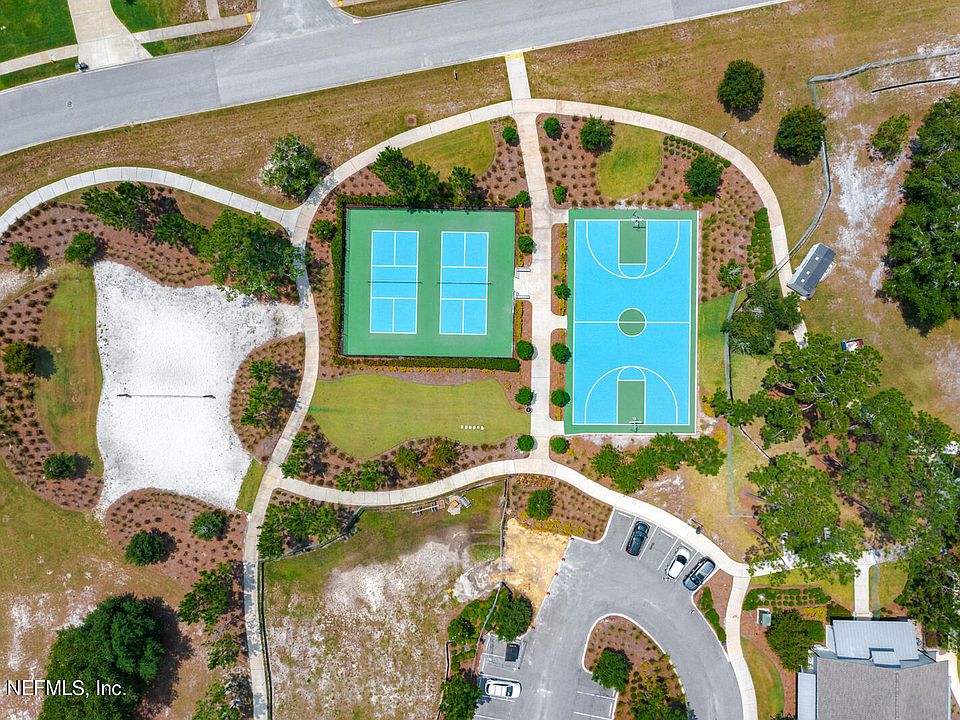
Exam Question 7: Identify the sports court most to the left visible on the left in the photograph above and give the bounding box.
[95,261,305,524]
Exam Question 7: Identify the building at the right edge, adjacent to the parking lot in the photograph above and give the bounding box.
[798,611,949,720]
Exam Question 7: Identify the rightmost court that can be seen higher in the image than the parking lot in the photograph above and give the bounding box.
[564,209,699,436]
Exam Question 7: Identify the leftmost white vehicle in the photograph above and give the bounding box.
[485,677,521,698]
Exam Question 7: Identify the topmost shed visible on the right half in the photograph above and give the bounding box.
[779,240,836,304]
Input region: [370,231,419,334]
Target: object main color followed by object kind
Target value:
blue sports court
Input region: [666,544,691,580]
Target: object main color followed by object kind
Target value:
white car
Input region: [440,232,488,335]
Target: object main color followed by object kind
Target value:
blue sports court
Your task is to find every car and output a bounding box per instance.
[666,544,691,580]
[683,555,715,591]
[485,677,521,698]
[624,519,648,557]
